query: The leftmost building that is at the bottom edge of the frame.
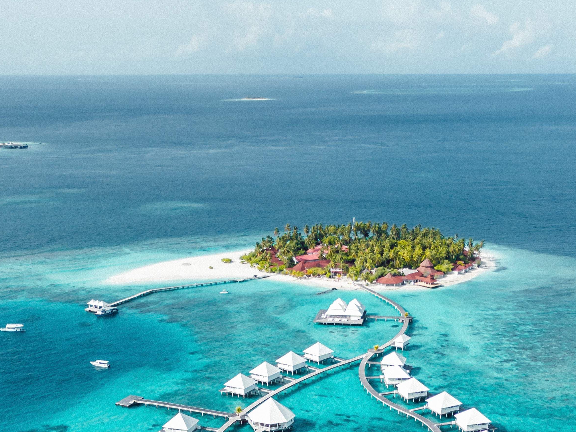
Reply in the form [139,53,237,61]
[155,412,204,432]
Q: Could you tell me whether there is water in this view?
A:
Yes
